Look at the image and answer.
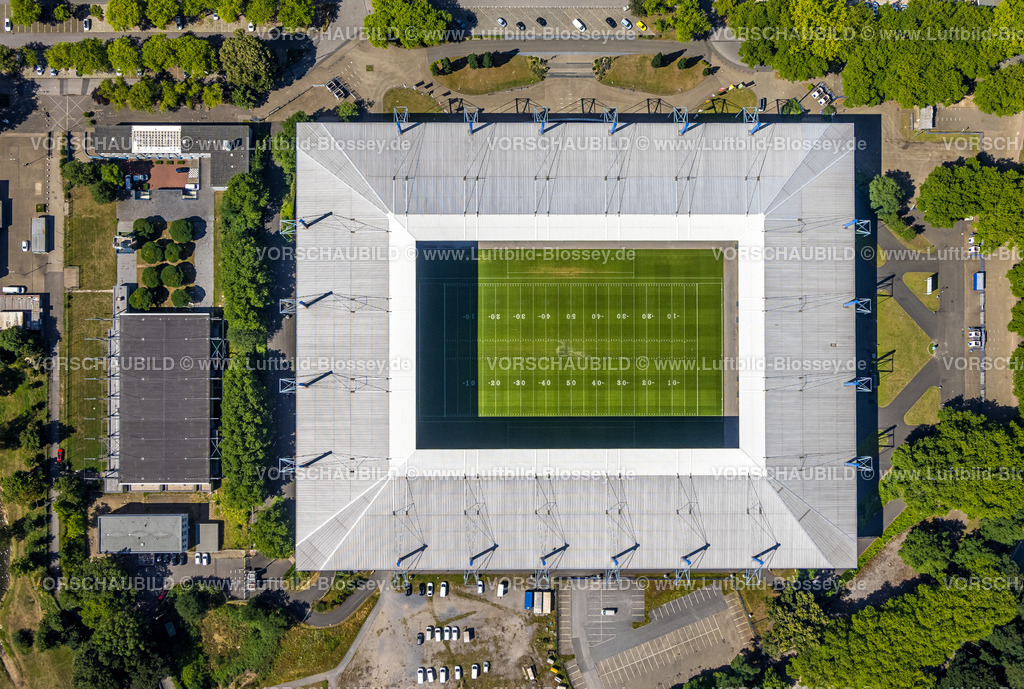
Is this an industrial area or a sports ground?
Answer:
sports ground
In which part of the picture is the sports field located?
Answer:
center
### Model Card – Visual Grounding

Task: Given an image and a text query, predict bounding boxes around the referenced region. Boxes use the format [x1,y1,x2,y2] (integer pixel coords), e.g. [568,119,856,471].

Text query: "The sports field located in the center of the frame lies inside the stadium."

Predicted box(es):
[416,241,738,448]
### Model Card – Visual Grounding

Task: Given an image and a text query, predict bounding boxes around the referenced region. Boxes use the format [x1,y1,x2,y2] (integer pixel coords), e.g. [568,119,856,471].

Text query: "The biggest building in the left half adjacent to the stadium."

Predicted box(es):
[84,287,229,493]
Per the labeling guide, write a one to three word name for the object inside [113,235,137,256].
building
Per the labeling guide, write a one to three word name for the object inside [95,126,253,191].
building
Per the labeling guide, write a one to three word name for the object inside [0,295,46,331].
shed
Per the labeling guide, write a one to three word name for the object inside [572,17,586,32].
vehicle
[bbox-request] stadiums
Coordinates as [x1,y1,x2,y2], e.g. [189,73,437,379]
[281,107,872,585]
